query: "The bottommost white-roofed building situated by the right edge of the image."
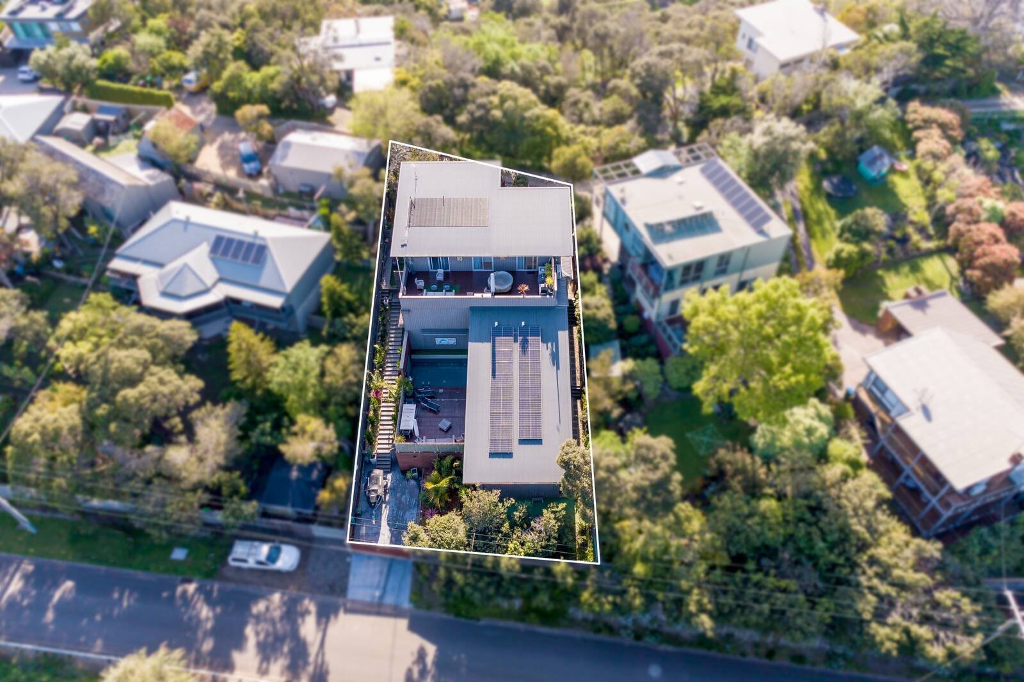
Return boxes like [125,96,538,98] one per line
[844,326,1024,542]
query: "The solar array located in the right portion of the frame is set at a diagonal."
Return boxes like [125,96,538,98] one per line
[700,161,774,228]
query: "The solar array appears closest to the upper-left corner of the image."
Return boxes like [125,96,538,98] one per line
[209,235,259,264]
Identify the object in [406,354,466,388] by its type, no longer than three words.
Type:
swimming pool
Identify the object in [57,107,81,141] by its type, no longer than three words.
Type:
shed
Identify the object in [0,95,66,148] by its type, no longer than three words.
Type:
building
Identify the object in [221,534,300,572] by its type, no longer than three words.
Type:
vehicle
